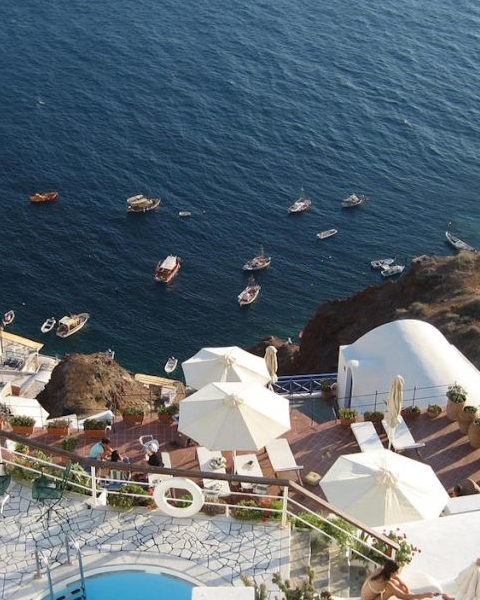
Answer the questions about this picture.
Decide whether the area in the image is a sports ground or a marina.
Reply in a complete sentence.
This image shows a marina.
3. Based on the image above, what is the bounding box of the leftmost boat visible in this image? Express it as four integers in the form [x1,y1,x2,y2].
[1,311,14,326]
